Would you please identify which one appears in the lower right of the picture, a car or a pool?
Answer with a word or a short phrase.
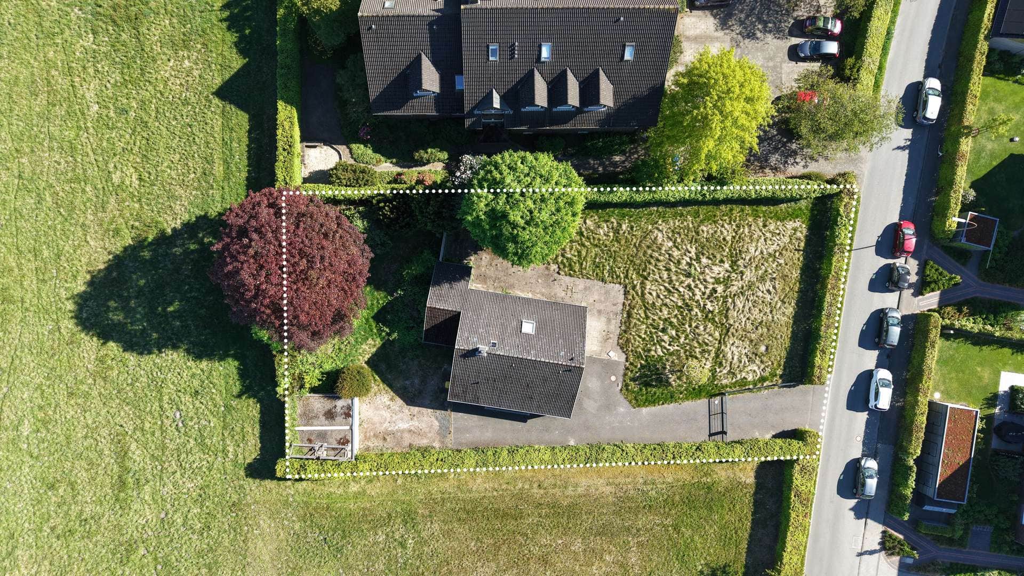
car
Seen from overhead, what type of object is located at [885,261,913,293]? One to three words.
car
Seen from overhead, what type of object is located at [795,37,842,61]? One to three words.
car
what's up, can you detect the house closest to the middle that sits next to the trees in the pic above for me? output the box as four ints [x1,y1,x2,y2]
[423,260,590,419]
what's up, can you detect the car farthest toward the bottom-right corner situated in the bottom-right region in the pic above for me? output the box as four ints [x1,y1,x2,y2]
[851,456,880,501]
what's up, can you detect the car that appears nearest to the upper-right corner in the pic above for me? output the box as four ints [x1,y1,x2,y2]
[913,79,944,125]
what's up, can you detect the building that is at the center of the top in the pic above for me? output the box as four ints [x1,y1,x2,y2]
[357,0,680,157]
